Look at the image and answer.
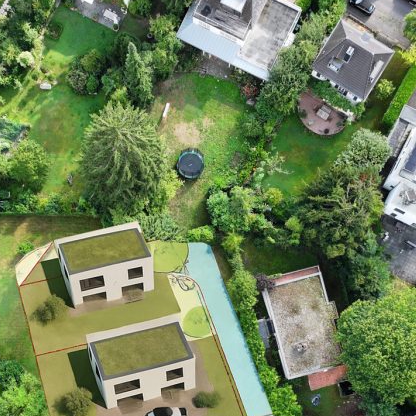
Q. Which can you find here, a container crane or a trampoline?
trampoline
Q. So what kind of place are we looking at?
residential area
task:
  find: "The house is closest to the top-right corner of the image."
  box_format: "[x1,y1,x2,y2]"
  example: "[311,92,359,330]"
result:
[311,19,394,103]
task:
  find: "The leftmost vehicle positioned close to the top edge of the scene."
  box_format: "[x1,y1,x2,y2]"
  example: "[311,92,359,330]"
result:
[347,0,377,18]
